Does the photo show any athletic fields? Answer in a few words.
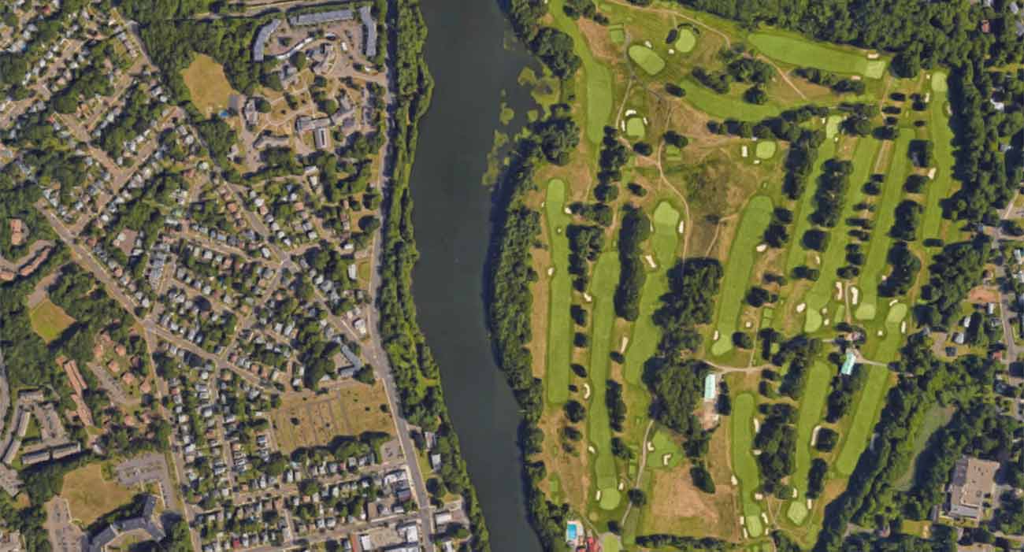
Yes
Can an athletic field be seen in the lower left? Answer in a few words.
Yes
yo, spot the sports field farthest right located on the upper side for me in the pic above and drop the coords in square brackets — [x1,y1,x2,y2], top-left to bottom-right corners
[181,53,232,118]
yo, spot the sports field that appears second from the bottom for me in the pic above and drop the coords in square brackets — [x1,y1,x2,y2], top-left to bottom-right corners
[30,299,76,344]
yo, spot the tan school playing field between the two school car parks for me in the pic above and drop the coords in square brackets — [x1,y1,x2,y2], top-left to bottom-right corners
[60,465,141,526]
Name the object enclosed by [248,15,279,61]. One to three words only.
building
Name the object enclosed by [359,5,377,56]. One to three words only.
building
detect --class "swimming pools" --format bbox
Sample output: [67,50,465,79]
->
[566,521,584,551]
